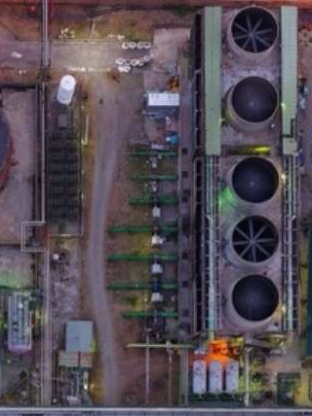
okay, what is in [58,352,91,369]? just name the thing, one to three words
building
